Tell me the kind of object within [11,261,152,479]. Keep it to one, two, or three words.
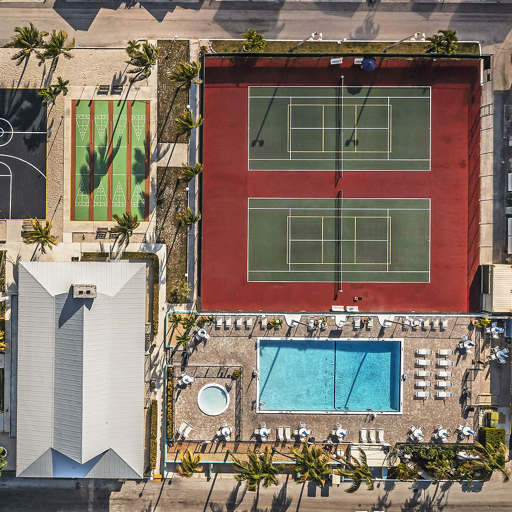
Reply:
building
